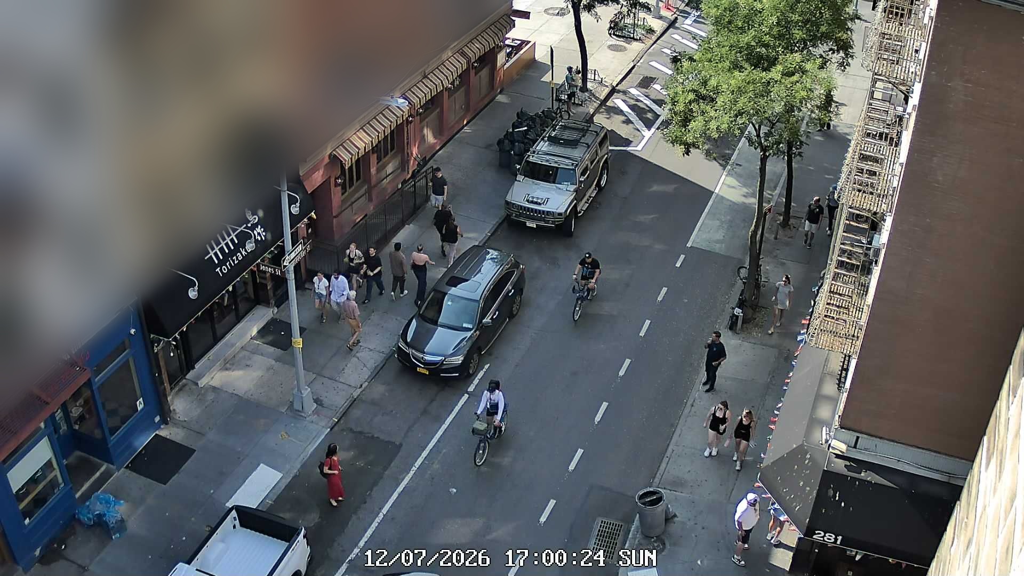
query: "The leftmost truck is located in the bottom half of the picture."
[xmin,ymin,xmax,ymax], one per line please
[161,506,318,576]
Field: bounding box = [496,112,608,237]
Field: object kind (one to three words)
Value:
car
